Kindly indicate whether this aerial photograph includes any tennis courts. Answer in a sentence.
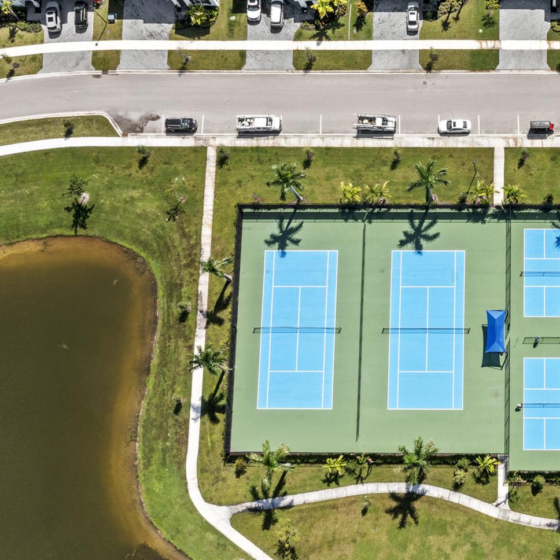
Yes, a tennis court is visible in the scene.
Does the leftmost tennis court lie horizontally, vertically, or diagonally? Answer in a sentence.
Seen from above, the leftmost tennis court lies vertically.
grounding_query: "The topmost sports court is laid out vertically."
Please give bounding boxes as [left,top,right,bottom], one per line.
[524,229,560,317]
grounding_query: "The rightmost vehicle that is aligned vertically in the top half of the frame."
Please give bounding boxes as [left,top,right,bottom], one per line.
[405,2,420,32]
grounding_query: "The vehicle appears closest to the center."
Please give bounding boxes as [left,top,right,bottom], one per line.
[230,115,280,133]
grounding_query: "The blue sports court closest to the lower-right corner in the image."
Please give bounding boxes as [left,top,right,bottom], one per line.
[523,358,560,450]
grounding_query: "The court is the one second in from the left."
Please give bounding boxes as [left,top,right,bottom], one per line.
[388,250,465,410]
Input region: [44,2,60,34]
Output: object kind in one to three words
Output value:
car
